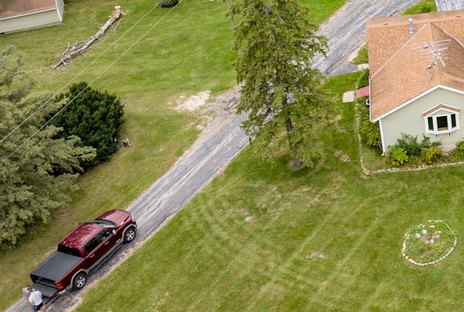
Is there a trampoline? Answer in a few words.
No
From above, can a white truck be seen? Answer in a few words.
No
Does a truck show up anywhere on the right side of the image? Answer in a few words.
No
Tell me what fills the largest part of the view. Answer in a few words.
grass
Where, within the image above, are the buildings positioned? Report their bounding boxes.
[365,10,464,157]
[0,0,64,32]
